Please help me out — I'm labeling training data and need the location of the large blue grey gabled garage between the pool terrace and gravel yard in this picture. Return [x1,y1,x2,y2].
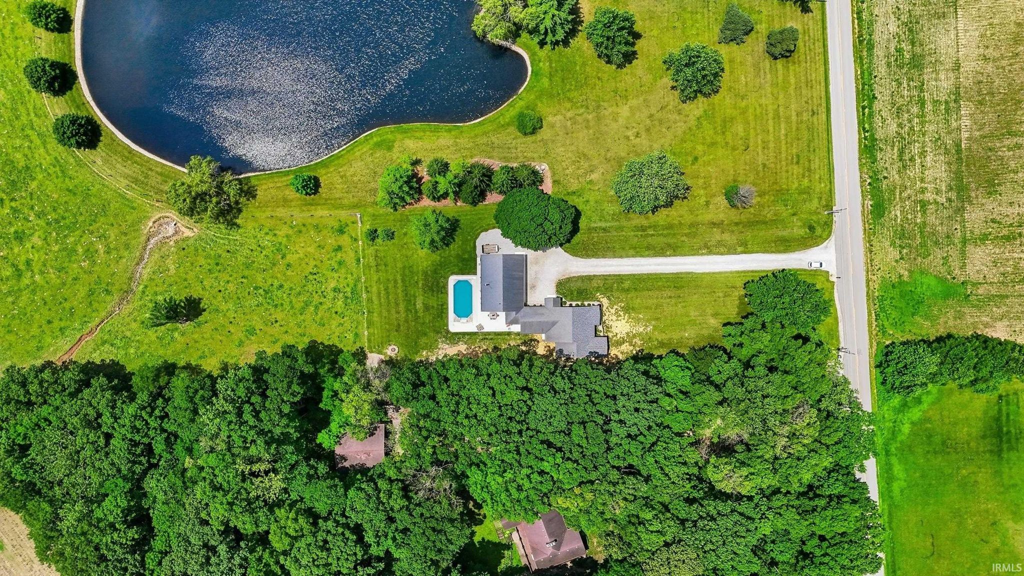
[481,254,525,312]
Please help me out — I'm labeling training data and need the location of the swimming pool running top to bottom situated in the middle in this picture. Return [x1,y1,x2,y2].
[453,279,473,322]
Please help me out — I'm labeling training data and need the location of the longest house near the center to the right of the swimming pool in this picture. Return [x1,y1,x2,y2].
[506,298,608,358]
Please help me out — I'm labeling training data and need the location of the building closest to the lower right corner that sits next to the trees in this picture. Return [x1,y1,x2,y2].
[517,509,586,574]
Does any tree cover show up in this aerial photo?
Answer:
Yes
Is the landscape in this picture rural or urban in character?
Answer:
rural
